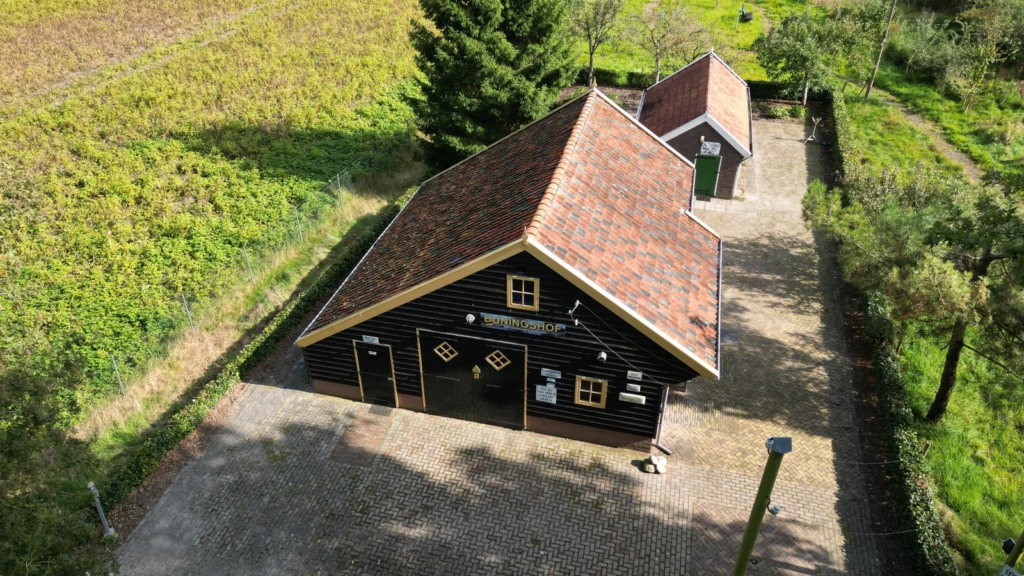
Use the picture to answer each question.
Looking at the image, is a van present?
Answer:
No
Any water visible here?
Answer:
No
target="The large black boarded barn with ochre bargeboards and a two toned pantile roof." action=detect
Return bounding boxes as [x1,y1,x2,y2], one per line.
[289,80,727,464]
